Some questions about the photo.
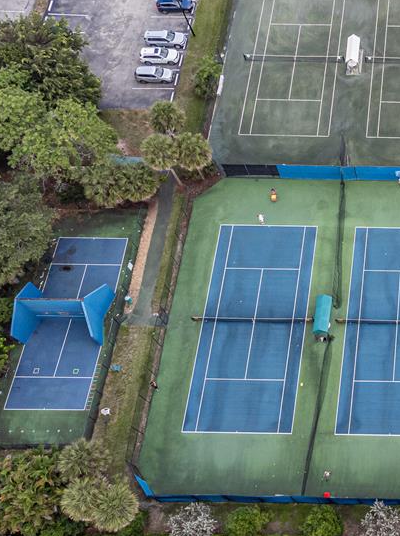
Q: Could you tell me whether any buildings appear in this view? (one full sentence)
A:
No, there appears to be no building in this shot.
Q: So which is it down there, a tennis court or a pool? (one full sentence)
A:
The image shows a tennis court.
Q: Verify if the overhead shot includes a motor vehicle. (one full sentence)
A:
Yes, the picture does show a motor vehicle.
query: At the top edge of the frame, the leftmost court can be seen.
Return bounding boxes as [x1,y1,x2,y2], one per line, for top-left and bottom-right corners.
[239,0,345,136]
